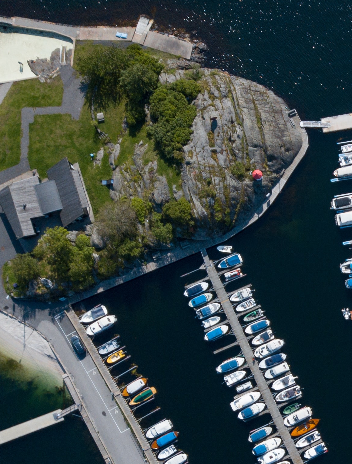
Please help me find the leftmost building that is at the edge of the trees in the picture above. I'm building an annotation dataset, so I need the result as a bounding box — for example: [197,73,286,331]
[0,157,92,237]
